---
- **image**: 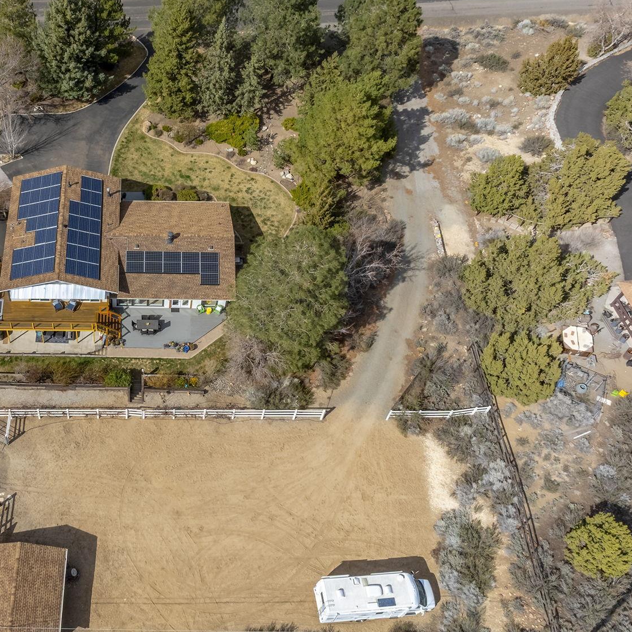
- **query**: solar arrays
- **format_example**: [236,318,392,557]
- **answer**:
[127,253,222,287]
[66,175,104,283]
[6,171,58,283]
